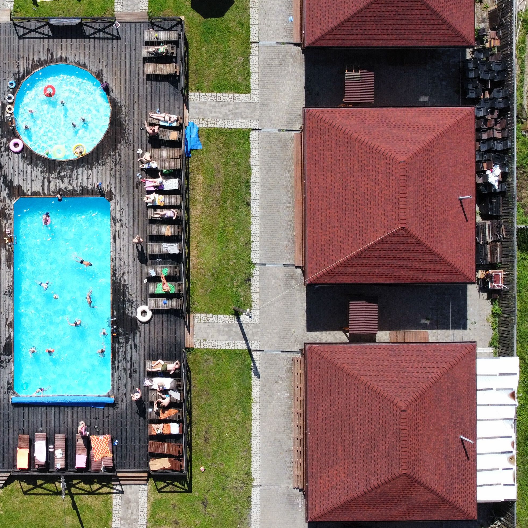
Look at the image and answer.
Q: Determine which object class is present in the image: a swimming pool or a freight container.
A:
swimming pool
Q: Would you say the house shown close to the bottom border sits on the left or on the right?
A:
right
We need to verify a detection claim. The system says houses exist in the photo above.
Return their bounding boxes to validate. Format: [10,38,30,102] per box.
[299,106,478,286]
[301,341,479,523]
[299,0,477,49]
